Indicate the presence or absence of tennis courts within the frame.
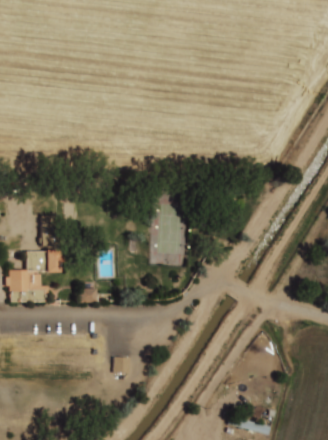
Yes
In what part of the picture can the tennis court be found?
center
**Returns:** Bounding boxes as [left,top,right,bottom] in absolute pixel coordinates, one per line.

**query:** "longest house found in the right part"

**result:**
[233,420,272,435]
